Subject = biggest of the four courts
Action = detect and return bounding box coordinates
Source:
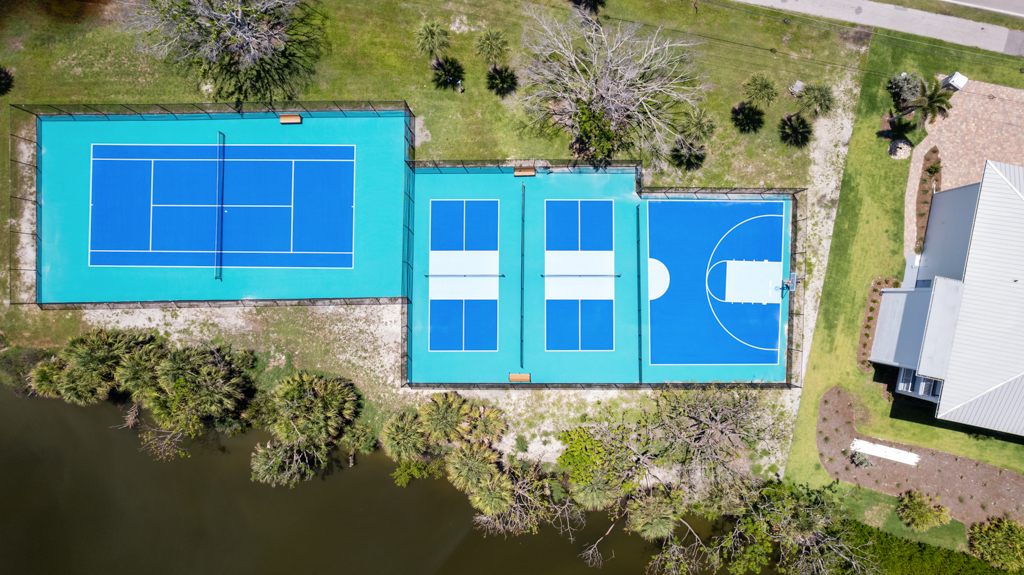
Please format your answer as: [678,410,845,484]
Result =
[37,111,411,303]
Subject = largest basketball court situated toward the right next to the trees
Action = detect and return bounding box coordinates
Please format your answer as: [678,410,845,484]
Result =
[648,200,784,364]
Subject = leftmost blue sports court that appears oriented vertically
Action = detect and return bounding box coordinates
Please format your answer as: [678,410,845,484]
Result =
[430,200,499,352]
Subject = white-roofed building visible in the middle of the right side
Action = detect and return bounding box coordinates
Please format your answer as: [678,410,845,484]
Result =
[867,158,1024,436]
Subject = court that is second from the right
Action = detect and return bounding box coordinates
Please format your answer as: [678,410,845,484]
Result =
[545,200,614,352]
